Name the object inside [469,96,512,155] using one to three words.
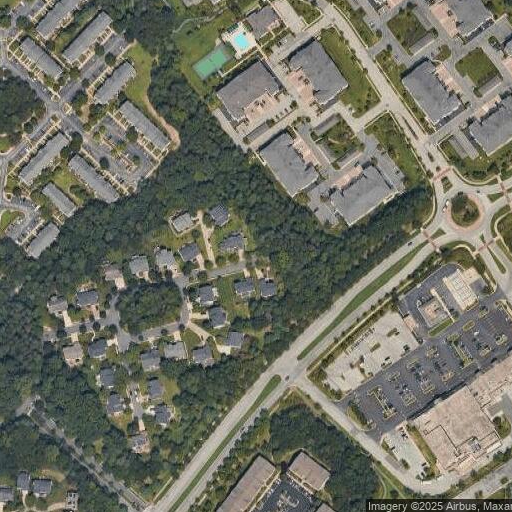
building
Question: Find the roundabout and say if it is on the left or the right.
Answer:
right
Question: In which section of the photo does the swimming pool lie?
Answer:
top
